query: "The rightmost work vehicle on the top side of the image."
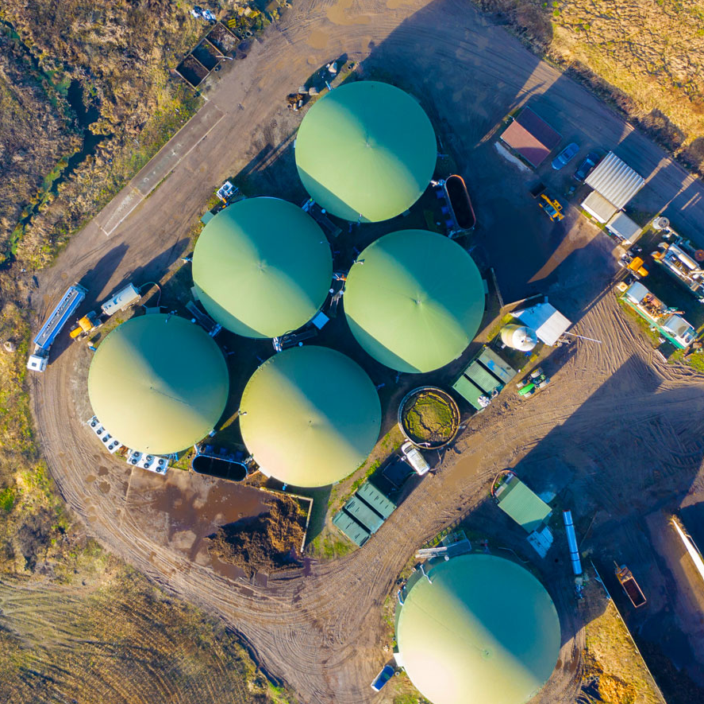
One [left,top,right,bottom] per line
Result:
[621,251,653,284]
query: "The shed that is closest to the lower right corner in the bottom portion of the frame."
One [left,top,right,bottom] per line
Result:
[486,464,550,532]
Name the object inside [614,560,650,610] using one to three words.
trailer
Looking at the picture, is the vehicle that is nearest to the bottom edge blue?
Yes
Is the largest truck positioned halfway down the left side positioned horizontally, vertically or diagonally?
diagonally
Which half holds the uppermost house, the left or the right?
right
